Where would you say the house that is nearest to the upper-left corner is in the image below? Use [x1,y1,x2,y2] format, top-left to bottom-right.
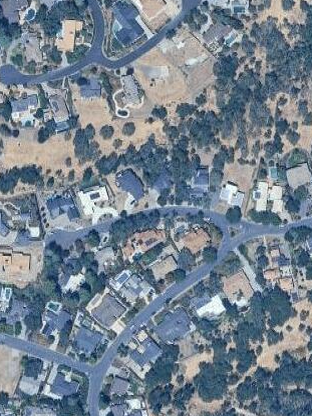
[2,0,32,23]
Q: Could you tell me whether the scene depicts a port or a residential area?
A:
residential area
